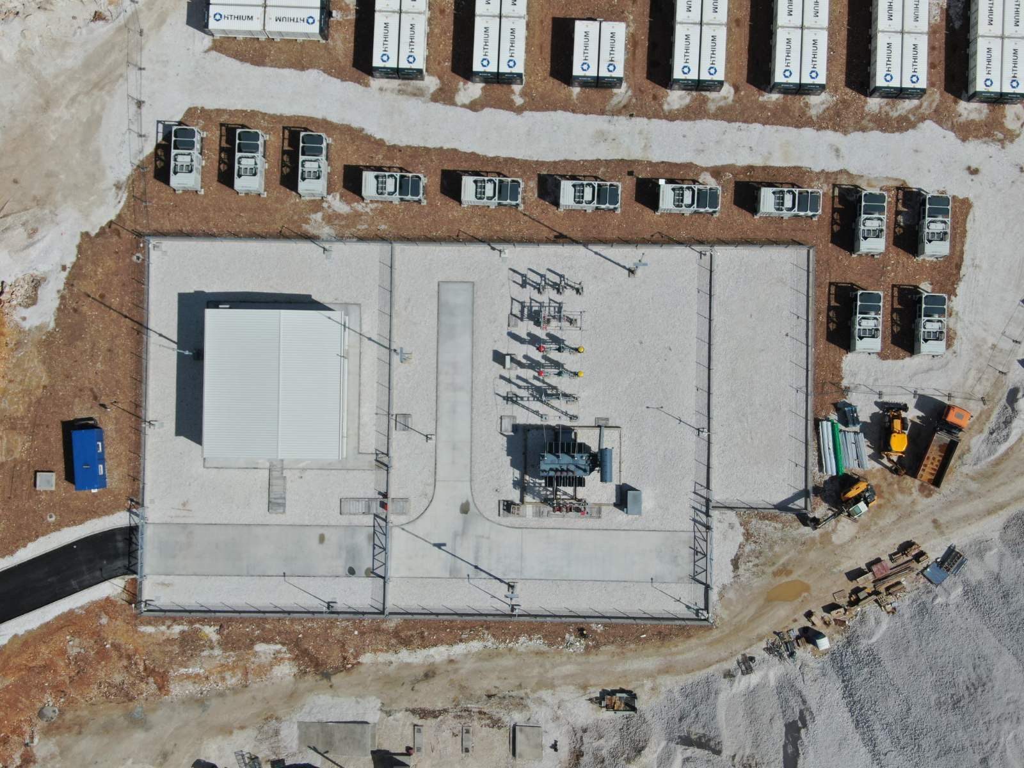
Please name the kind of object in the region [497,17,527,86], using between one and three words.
shipping container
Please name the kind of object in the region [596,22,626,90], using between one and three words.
shipping container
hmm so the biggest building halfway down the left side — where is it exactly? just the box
[204,306,354,460]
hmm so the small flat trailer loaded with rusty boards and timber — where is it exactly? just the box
[589,690,638,714]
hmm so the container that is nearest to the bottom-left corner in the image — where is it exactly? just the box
[72,421,108,491]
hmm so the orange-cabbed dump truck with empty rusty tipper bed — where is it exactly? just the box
[910,402,976,493]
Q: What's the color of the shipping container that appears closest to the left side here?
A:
blue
